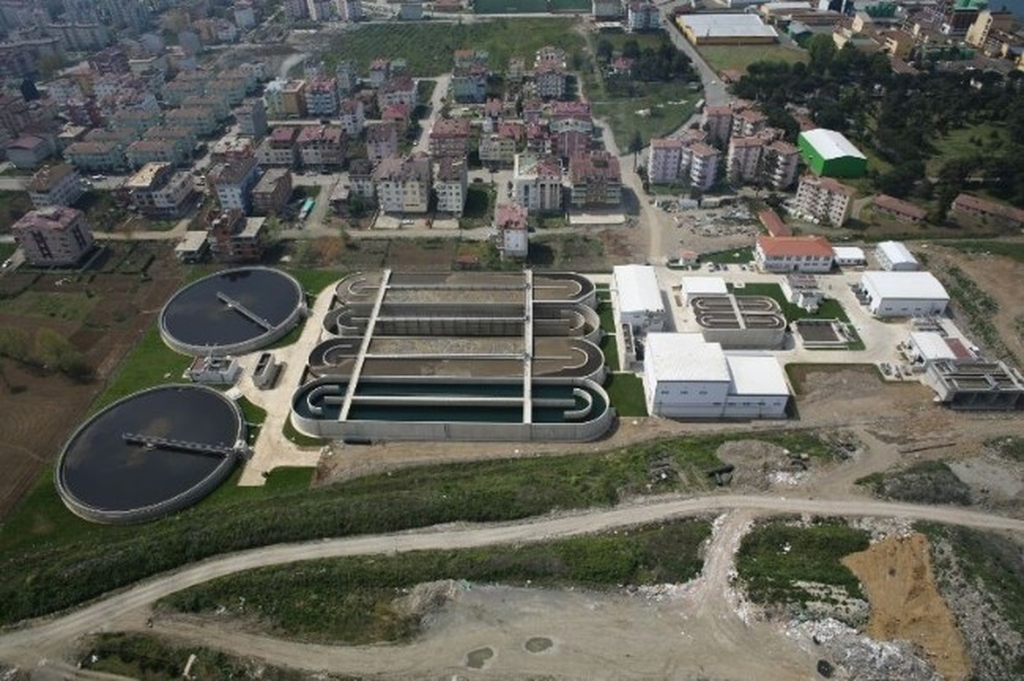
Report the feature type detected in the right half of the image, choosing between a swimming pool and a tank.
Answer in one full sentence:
It is a tank that can be seen in the right half of the image.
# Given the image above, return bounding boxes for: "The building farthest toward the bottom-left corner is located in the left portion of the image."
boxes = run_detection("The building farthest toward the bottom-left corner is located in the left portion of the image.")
[186,342,240,382]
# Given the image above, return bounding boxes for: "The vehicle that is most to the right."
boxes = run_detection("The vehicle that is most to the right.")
[965,336,990,355]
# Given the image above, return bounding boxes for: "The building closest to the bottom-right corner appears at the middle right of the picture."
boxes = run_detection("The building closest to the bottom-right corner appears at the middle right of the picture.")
[905,327,961,369]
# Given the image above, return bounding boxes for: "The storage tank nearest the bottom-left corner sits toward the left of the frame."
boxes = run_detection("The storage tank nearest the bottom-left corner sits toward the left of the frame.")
[56,382,262,529]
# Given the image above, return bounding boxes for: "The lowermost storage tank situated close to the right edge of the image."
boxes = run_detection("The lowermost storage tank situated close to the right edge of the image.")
[925,358,1024,410]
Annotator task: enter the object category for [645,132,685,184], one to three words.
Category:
building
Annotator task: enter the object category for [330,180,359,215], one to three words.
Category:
house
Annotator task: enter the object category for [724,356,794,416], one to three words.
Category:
building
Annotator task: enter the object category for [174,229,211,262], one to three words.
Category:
house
